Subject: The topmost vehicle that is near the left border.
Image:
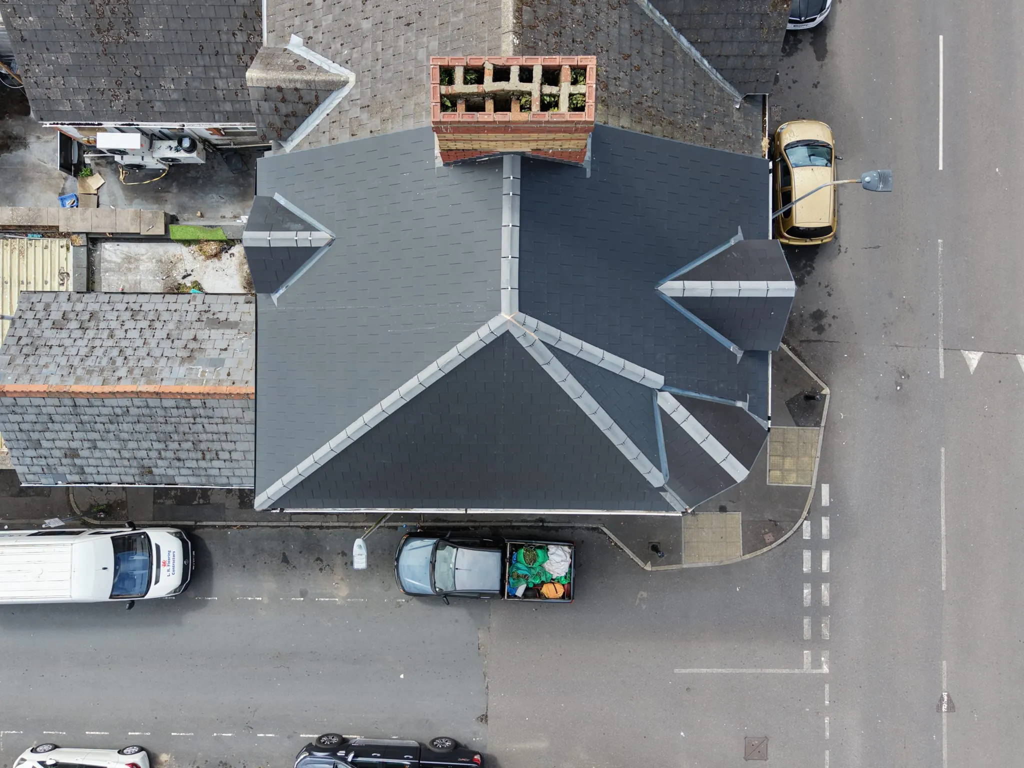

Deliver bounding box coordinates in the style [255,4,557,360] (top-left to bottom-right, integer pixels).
[0,524,200,610]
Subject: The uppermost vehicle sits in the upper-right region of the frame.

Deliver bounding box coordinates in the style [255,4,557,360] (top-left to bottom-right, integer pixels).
[789,0,837,33]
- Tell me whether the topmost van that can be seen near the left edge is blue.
No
